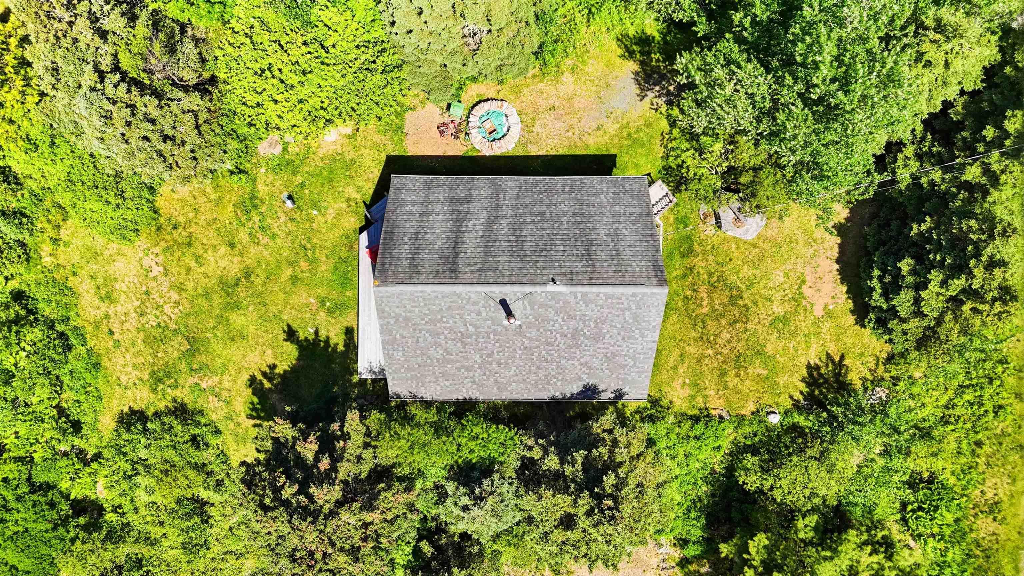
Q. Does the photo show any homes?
Yes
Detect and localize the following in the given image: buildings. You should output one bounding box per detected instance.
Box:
[373,172,667,402]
